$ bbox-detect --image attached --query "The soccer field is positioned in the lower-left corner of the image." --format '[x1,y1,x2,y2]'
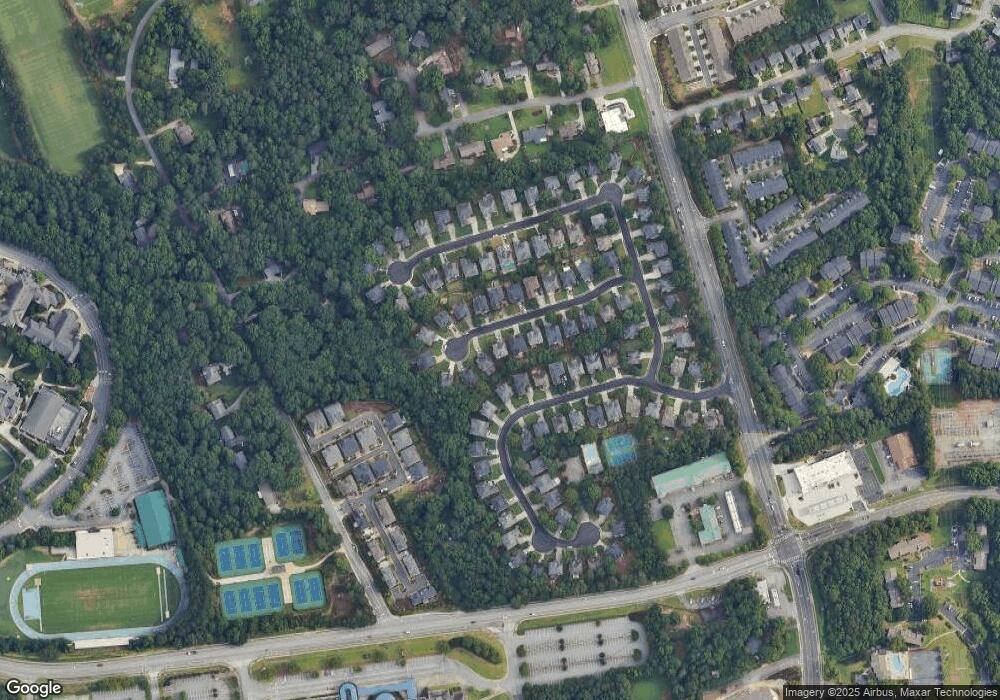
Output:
[21,564,179,632]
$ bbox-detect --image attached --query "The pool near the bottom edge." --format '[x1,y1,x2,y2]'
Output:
[880,650,910,679]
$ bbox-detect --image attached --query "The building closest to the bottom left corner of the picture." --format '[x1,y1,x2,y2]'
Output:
[75,528,114,559]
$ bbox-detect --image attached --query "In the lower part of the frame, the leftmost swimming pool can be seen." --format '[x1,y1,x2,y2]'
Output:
[581,442,602,468]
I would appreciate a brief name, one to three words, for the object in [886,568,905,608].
building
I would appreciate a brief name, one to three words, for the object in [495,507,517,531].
house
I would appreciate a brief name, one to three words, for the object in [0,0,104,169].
sports field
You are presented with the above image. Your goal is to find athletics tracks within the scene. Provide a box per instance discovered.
[10,552,188,641]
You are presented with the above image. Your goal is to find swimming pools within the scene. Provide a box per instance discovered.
[581,442,602,468]
[502,260,517,272]
[880,650,910,679]
[885,362,911,397]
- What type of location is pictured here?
residential area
